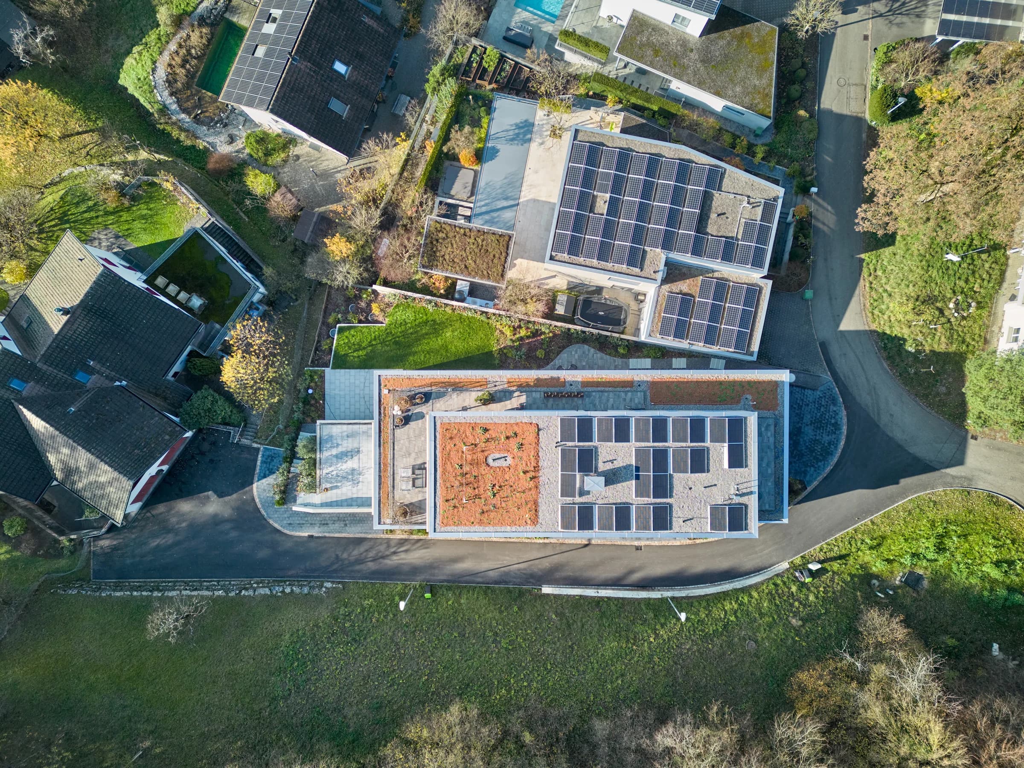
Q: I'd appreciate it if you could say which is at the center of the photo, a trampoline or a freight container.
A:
trampoline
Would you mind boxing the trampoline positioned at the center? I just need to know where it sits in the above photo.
[572,290,634,333]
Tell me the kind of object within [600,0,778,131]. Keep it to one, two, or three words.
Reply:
house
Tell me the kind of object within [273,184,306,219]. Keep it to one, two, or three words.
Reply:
shed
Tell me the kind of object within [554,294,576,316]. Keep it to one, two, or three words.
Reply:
shed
